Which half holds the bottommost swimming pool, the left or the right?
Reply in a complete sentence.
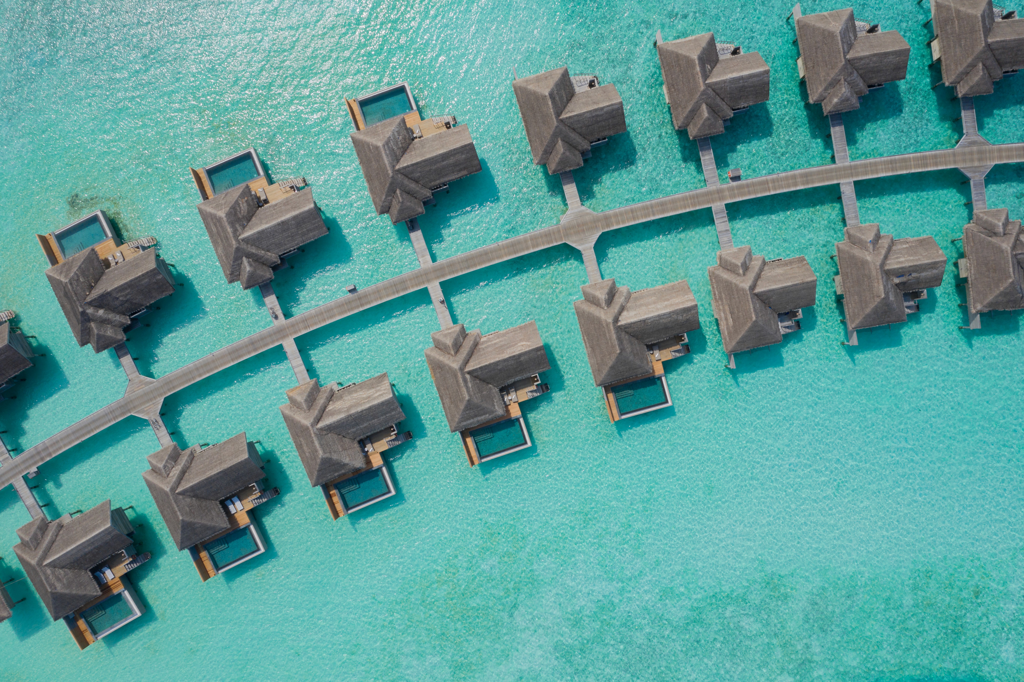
You can find the bottommost swimming pool on the left side of the picture.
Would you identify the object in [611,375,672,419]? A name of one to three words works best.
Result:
swimming pool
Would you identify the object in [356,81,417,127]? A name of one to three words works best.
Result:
swimming pool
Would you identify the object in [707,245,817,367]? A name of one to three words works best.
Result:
house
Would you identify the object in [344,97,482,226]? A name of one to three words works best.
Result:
house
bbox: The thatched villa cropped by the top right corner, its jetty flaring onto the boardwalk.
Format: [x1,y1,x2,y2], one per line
[919,0,1024,101]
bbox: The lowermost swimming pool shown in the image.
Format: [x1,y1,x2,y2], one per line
[81,573,148,642]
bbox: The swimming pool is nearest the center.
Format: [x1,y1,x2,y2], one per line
[470,403,531,462]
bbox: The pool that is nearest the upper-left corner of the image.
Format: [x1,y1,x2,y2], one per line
[50,209,122,260]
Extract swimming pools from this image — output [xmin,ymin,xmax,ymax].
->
[334,452,397,515]
[203,509,268,575]
[356,81,417,127]
[470,403,531,462]
[50,209,122,260]
[81,573,148,642]
[611,375,672,419]
[202,147,271,195]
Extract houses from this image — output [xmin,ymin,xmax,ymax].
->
[424,319,551,467]
[512,66,626,176]
[189,168,330,293]
[707,245,817,367]
[653,30,770,141]
[0,308,45,403]
[951,206,1024,329]
[35,233,182,356]
[786,3,911,117]
[12,496,155,651]
[280,371,411,521]
[344,97,482,226]
[828,222,948,345]
[573,276,700,423]
[919,0,1024,101]
[142,429,279,582]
